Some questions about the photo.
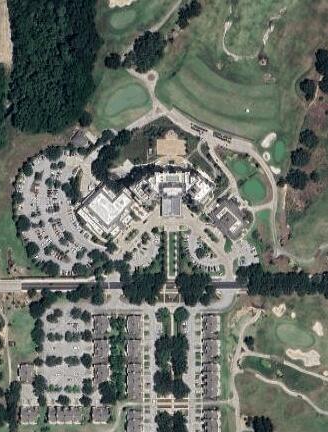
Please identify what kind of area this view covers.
golf course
